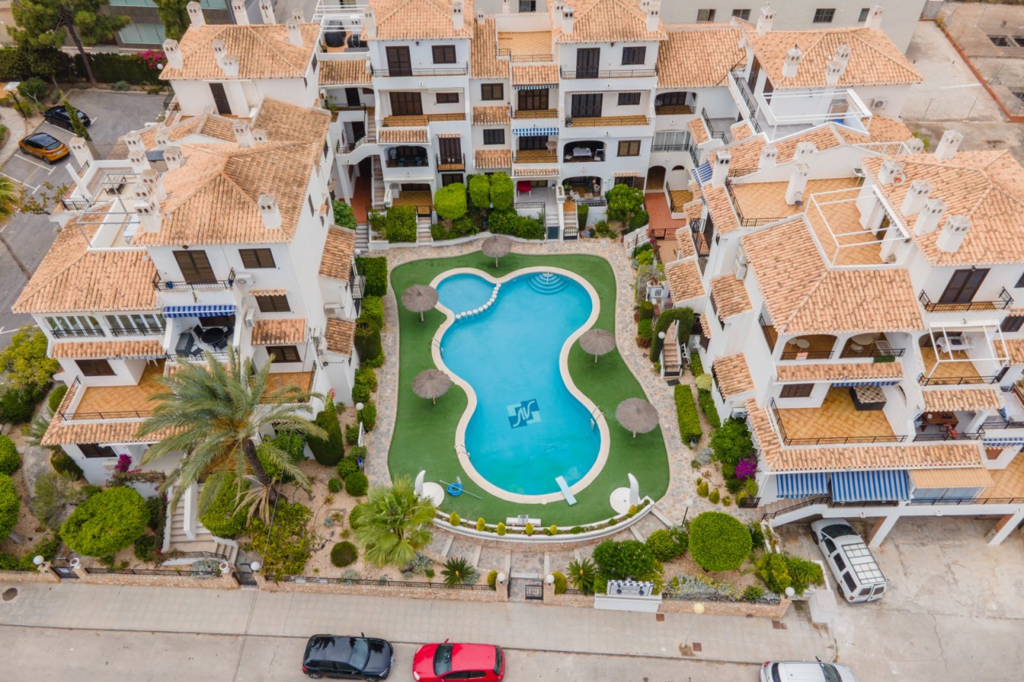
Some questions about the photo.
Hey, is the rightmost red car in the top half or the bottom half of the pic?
bottom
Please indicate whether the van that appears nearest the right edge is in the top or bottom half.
bottom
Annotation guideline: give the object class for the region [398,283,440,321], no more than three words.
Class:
umbrella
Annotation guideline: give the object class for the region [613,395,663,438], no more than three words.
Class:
umbrella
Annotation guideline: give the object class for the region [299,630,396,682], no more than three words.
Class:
car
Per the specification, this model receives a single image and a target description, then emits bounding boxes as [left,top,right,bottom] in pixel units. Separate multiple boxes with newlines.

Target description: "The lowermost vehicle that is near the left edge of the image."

[22,137,62,165]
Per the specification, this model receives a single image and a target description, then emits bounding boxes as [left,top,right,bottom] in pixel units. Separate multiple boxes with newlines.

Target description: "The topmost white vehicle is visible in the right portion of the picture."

[809,518,885,607]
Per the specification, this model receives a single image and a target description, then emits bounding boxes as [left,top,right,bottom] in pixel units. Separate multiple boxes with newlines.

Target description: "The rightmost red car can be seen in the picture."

[413,637,506,682]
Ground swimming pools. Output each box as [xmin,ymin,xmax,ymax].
[432,266,609,502]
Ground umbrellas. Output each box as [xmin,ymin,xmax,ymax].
[398,283,440,321]
[613,395,663,438]
[476,230,516,267]
[575,322,621,362]
[408,362,454,404]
